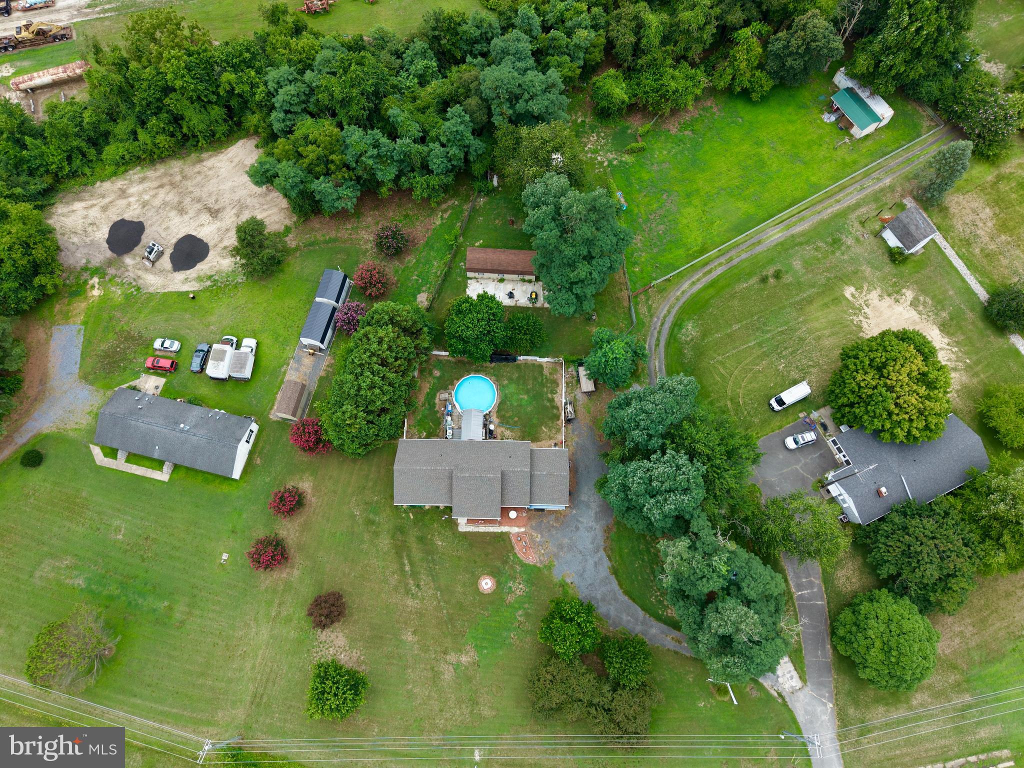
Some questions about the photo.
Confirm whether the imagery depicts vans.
Yes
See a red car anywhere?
Yes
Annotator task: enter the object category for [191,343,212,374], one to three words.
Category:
car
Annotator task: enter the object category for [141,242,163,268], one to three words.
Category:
work vehicle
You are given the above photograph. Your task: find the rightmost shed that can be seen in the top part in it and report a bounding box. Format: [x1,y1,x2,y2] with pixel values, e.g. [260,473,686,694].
[878,208,937,252]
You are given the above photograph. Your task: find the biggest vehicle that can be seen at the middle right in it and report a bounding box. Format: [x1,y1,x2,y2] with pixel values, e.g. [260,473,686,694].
[766,380,817,413]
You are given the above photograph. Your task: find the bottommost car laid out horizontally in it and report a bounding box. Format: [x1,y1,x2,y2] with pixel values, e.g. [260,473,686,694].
[782,431,819,450]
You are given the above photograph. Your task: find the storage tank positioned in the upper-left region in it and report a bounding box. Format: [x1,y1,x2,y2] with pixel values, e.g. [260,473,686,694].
[9,59,90,94]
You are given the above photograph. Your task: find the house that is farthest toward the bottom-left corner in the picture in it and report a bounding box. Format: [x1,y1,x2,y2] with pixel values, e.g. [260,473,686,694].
[95,387,260,480]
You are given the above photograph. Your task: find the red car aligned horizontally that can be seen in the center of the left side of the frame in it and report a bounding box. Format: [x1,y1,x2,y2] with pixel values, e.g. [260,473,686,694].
[145,356,179,374]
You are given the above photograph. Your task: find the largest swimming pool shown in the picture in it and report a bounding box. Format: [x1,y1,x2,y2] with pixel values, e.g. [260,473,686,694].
[453,374,497,413]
